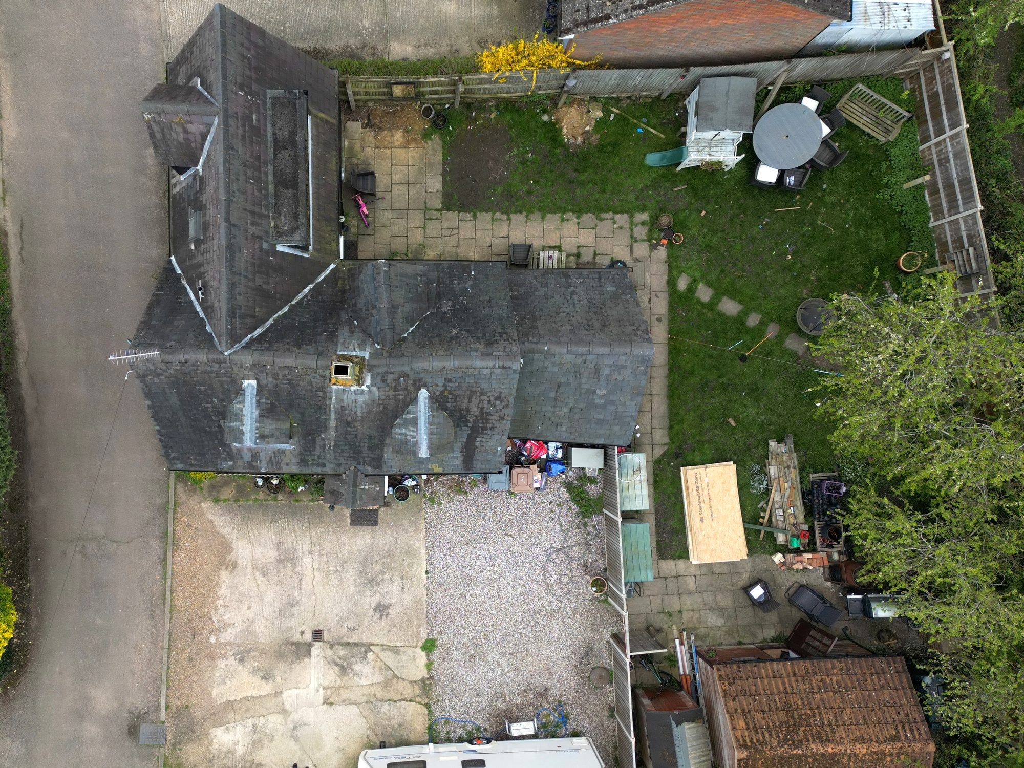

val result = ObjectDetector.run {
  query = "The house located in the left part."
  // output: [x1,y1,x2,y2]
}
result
[128,4,654,510]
